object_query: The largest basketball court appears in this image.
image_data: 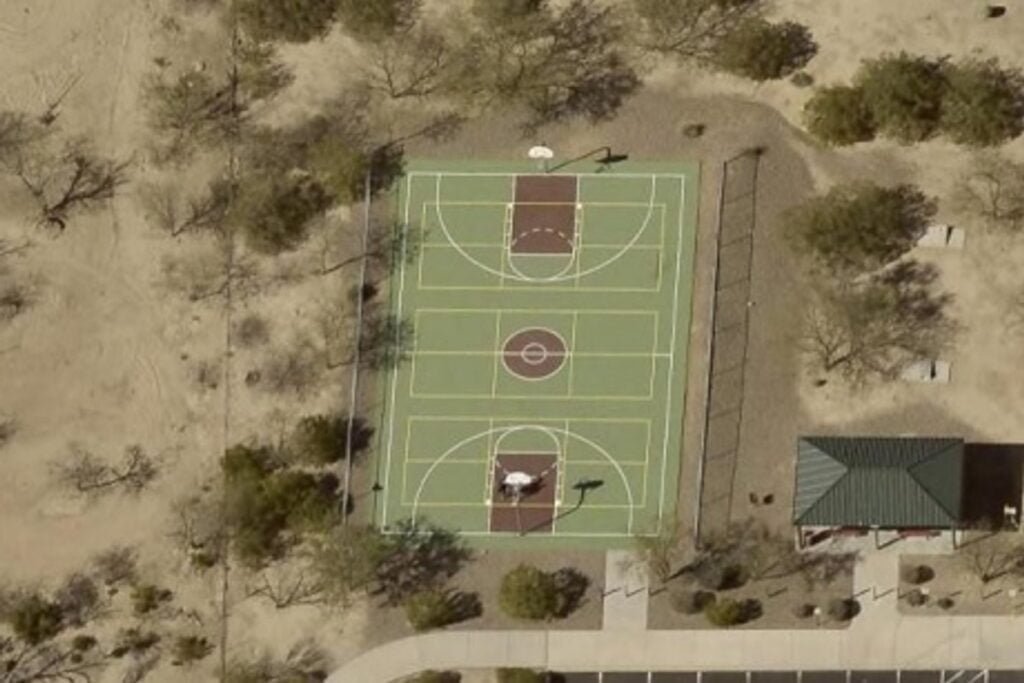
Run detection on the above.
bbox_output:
[366,159,701,552]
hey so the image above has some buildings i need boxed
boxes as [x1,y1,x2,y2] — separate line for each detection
[794,436,965,556]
